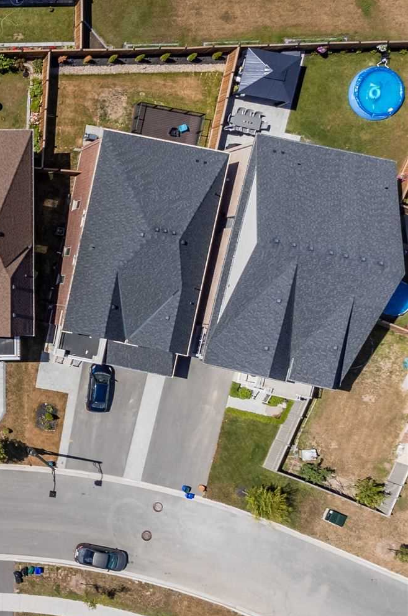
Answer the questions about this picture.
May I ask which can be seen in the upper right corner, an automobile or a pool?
pool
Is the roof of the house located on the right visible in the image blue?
No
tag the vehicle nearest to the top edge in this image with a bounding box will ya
[86,362,114,413]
